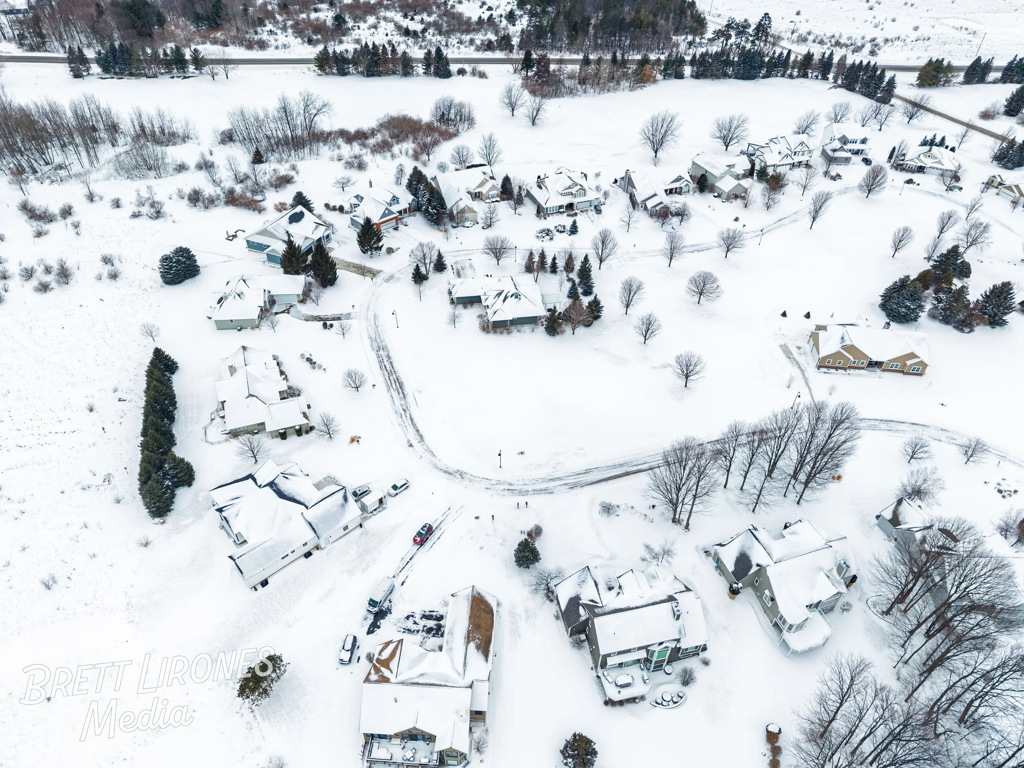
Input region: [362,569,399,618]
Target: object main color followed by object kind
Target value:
white van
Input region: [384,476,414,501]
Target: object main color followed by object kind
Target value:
white car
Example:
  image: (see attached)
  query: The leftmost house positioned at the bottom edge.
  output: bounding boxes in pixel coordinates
[359,588,496,768]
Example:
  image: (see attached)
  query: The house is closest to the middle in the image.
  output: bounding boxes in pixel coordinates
[448,274,562,330]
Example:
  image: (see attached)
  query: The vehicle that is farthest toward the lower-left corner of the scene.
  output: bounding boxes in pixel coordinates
[338,628,360,667]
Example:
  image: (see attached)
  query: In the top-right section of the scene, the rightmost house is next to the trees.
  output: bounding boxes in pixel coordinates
[974,172,1024,207]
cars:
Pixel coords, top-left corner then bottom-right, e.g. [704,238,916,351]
[411,519,437,547]
[338,628,360,667]
[351,481,375,501]
[594,205,603,214]
[860,155,876,165]
[384,476,414,501]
